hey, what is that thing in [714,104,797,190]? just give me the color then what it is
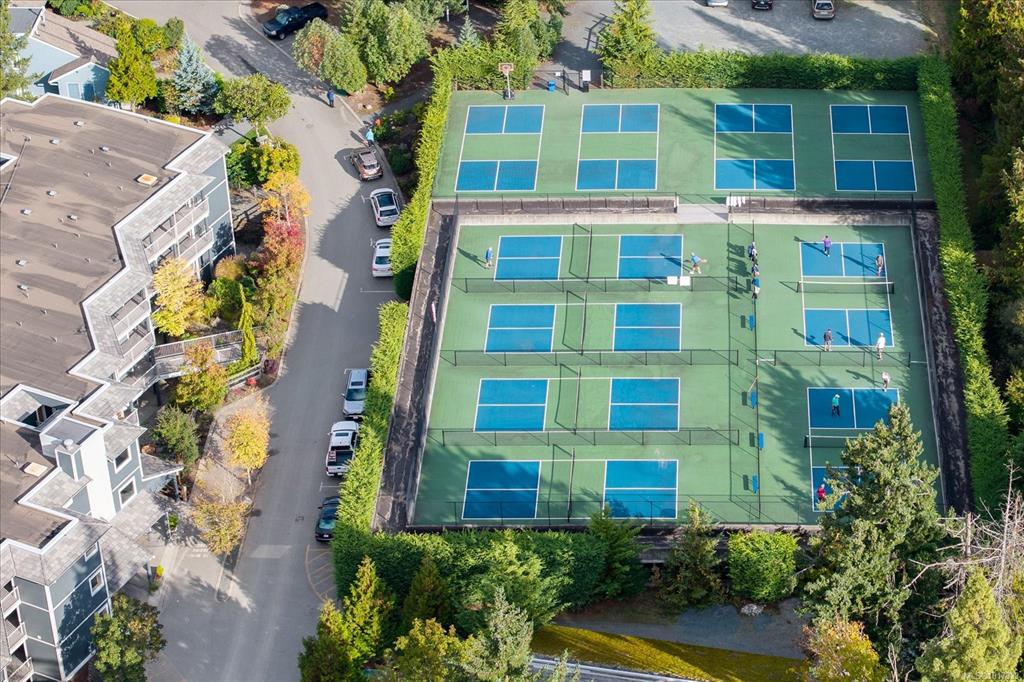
blue sports court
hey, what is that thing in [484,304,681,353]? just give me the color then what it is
blue sports court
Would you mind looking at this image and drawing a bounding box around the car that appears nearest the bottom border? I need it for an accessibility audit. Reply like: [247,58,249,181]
[304,489,343,542]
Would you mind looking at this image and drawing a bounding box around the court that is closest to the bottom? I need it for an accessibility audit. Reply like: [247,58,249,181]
[462,459,678,520]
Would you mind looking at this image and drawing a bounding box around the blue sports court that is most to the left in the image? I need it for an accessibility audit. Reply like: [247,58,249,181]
[454,105,546,191]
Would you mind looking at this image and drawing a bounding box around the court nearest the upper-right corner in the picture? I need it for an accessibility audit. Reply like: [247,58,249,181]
[828,104,919,190]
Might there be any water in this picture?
No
